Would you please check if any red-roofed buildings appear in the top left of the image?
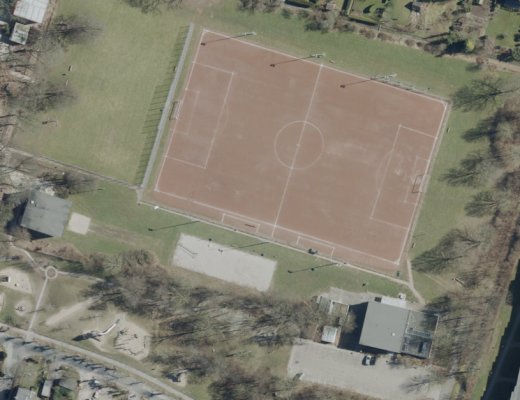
No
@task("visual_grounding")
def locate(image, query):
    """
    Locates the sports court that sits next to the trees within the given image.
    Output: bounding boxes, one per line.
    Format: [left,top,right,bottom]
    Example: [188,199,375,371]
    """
[172,233,278,292]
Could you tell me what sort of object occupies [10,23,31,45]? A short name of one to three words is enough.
building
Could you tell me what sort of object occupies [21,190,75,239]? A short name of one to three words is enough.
building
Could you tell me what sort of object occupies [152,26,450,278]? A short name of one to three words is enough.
soccer field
